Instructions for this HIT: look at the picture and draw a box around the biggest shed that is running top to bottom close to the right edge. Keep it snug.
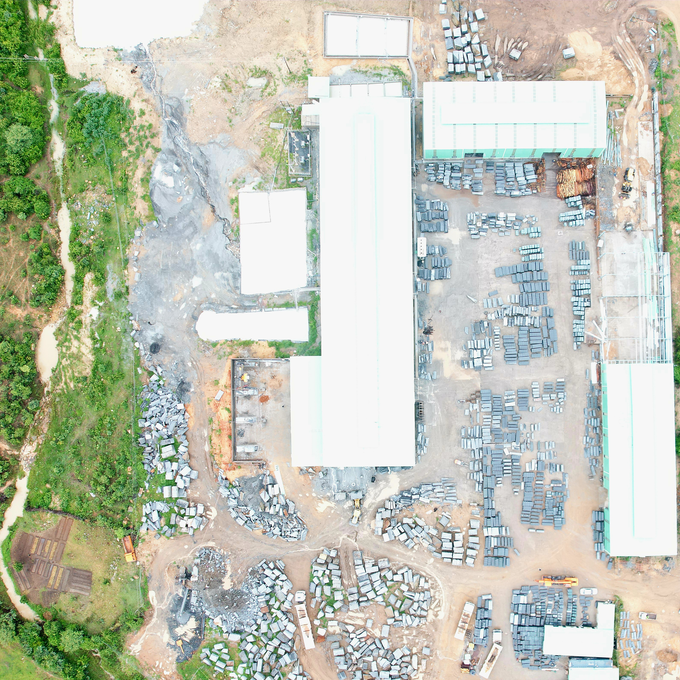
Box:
[601,363,677,556]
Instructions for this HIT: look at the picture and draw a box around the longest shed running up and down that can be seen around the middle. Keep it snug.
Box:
[321,95,416,467]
